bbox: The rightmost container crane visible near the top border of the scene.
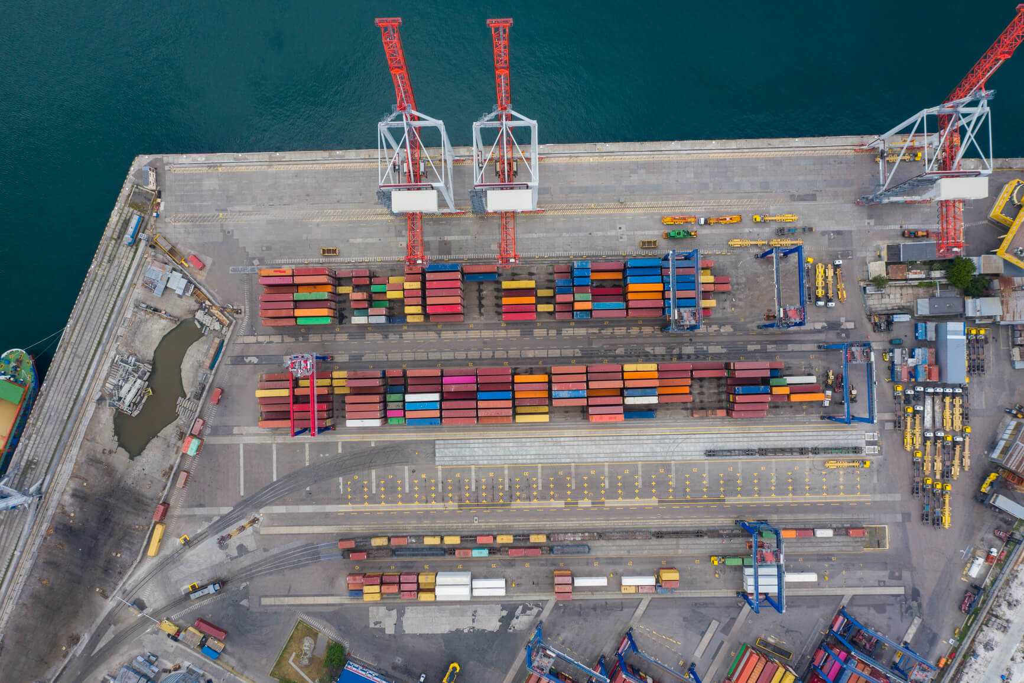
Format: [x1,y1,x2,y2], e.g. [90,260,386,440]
[854,1,1024,263]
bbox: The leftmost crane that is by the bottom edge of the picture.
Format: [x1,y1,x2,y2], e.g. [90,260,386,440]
[523,617,611,683]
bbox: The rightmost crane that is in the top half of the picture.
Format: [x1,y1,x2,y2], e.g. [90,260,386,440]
[976,178,1024,269]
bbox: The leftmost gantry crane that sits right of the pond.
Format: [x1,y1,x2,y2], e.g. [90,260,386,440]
[286,355,339,437]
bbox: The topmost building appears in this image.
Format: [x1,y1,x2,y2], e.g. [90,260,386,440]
[141,166,162,192]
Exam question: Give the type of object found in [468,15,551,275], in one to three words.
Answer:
container crane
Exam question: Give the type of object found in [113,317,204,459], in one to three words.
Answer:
pond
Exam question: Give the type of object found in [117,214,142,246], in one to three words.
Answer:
rail car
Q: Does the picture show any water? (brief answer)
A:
Yes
